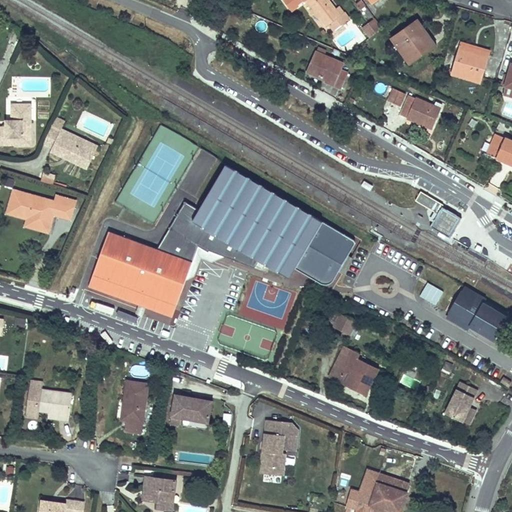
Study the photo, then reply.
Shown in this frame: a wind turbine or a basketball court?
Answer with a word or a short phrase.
basketball court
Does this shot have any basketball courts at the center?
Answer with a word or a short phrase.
Yes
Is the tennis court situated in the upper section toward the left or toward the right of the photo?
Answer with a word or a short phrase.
left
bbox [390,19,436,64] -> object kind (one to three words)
house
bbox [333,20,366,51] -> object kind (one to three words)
swimming pool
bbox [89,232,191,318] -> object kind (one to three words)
building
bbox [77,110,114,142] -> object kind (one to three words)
swimming pool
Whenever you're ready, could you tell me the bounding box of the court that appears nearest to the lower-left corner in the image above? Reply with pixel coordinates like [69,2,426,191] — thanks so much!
[217,316,278,361]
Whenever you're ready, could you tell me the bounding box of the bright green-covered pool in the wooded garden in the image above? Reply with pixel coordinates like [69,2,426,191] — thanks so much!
[400,374,421,390]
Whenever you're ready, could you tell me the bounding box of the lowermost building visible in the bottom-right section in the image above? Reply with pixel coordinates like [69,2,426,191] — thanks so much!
[344,468,410,512]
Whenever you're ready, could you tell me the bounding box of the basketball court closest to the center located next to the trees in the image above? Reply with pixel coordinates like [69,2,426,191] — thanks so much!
[238,275,296,332]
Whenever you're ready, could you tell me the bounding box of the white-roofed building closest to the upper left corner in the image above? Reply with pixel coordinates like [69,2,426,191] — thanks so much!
[0,103,36,148]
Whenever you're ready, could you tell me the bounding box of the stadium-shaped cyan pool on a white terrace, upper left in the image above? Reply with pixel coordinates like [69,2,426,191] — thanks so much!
[6,76,51,121]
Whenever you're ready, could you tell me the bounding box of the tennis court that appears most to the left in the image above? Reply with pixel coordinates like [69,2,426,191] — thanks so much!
[114,124,200,224]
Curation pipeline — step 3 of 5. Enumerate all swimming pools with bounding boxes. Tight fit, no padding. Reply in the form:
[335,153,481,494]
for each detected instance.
[0,481,14,512]
[374,82,388,95]
[256,20,268,32]
[77,110,114,142]
[176,504,210,512]
[174,450,214,467]
[129,364,149,378]
[0,356,9,370]
[6,76,51,121]
[500,96,512,120]
[333,20,366,51]
[400,374,421,390]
